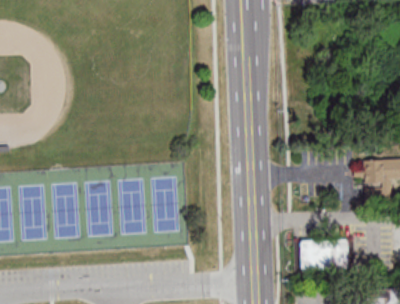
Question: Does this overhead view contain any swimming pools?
No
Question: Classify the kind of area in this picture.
sports ground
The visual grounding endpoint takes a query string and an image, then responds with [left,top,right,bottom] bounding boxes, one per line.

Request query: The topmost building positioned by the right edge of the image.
[350,160,400,198]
